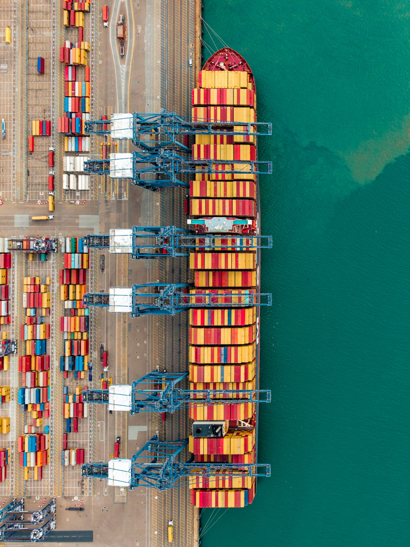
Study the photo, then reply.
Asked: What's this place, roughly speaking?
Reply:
port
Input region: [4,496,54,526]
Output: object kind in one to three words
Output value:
container crane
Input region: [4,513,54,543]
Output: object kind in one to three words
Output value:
container crane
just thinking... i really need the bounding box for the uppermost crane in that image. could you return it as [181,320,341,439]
[80,108,271,160]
